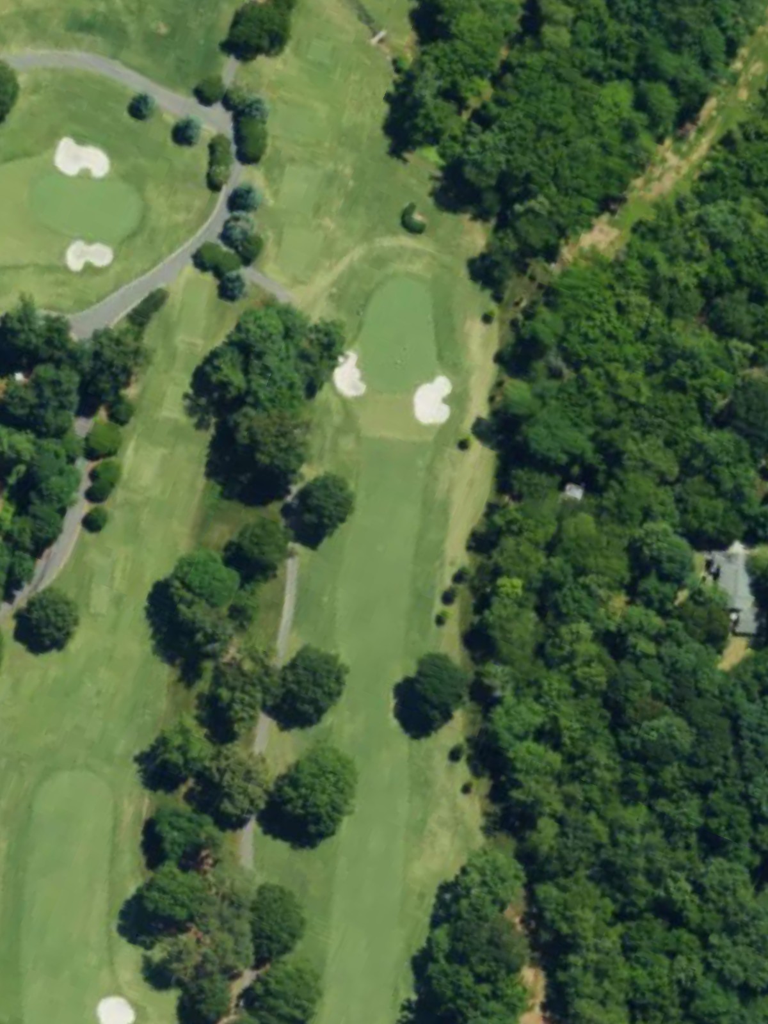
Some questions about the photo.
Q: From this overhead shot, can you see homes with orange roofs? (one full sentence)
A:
No, the picture doesn't show any home with an orange roof.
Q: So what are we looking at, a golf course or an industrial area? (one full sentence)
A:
The area seen from above is a golf course.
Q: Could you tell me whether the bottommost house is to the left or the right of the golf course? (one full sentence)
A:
The golf course has the bottommost house on its right side.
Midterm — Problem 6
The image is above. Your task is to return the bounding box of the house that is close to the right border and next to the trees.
[707,541,762,634]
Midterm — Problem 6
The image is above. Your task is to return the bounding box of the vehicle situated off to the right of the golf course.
[705,562,720,579]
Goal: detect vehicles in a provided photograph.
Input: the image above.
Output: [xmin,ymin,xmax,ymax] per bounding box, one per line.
[14,371,22,381]
[705,562,720,579]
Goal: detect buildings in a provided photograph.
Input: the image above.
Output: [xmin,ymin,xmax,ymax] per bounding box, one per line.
[564,484,585,500]
[707,541,762,634]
